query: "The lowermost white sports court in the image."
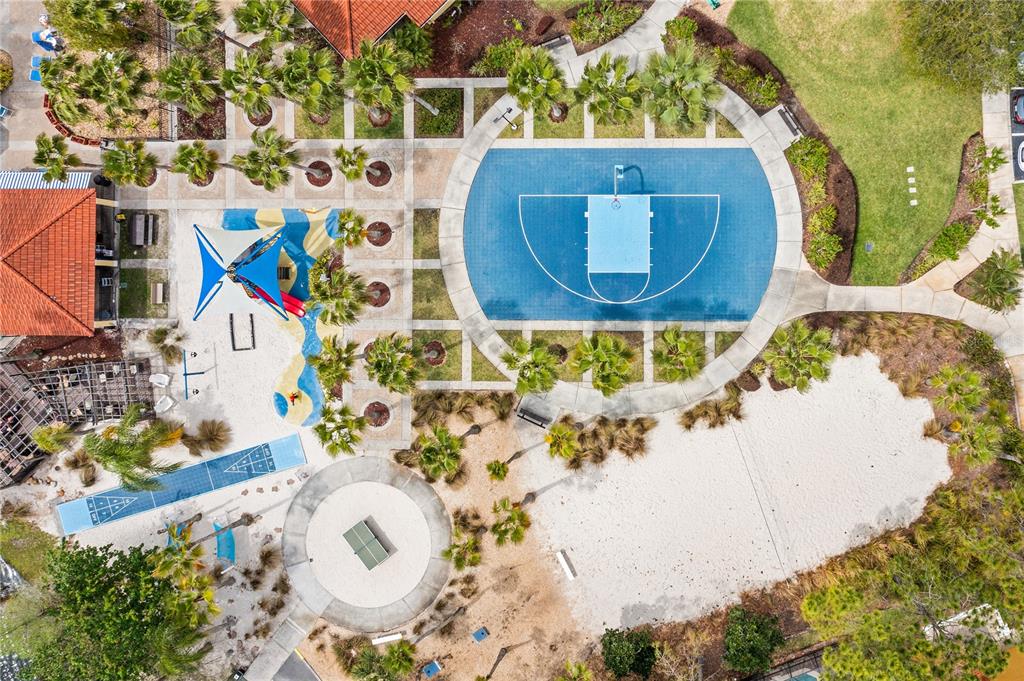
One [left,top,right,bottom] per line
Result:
[528,350,953,635]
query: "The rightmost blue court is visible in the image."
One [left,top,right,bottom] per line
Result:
[463,149,778,321]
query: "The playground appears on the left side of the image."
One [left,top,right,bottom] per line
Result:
[222,208,344,426]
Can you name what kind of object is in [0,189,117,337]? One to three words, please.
building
